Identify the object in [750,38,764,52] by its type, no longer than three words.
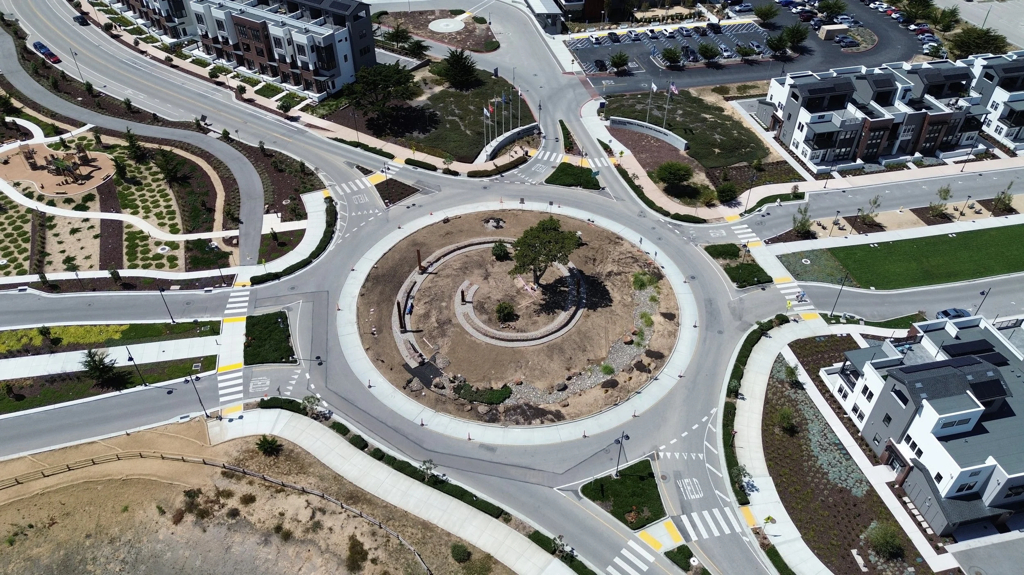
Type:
car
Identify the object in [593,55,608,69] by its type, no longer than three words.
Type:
car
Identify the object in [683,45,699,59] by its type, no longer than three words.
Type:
vehicle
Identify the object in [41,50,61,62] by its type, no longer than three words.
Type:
vehicle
